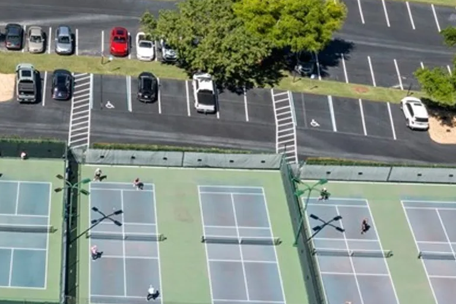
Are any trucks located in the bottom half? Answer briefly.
No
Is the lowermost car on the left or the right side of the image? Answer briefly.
right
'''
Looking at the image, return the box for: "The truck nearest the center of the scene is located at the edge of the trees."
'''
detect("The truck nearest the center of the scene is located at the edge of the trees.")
[194,73,217,110]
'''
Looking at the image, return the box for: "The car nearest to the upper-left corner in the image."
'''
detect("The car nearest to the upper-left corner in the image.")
[5,22,23,49]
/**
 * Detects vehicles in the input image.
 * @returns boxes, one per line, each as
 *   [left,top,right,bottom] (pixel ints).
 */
[55,20,74,51]
[405,96,432,129]
[194,73,217,110]
[160,34,179,61]
[110,27,130,53]
[136,31,155,58]
[16,64,38,101]
[52,68,73,99]
[138,71,158,101]
[5,22,23,49]
[27,23,46,51]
